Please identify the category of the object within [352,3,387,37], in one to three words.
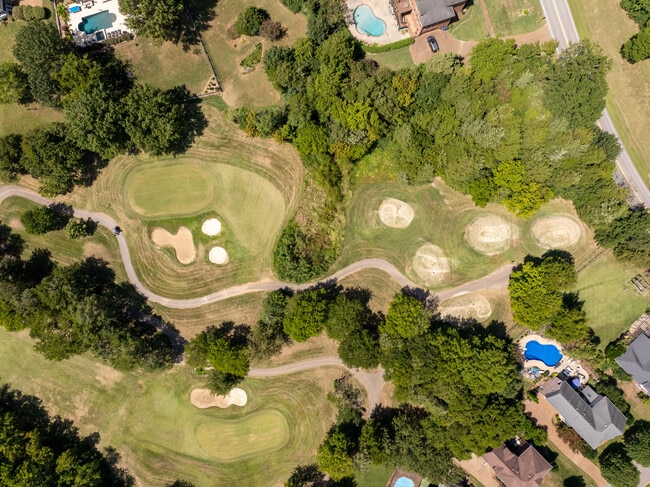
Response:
swimming pool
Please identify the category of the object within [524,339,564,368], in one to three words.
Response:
swimming pool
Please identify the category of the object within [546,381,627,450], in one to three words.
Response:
house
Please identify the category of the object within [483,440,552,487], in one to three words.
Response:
house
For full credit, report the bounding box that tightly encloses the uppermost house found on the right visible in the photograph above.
[413,0,467,35]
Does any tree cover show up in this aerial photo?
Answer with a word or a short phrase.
Yes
